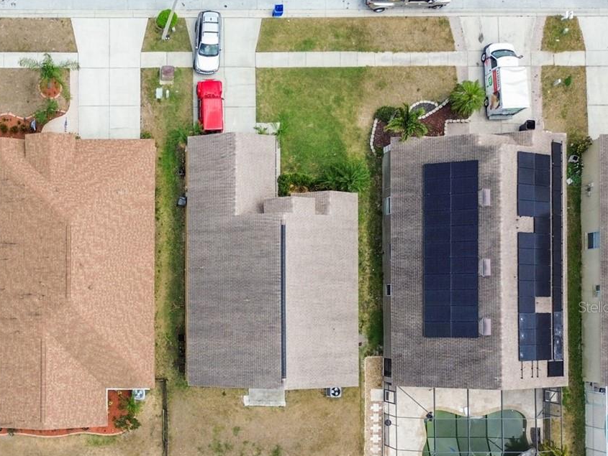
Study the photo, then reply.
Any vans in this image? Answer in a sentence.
Yes, the picture does show a van.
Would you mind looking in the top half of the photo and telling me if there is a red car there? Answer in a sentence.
Yes, there is a red car in the top half of the photo.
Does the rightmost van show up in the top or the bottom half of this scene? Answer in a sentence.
It is in the top half that the rightmost van appears.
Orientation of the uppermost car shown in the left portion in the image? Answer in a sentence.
Seen from above, the uppermost car shown in the left portion lies vertically.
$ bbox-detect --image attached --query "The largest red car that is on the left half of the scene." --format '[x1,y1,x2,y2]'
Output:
[197,77,225,134]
